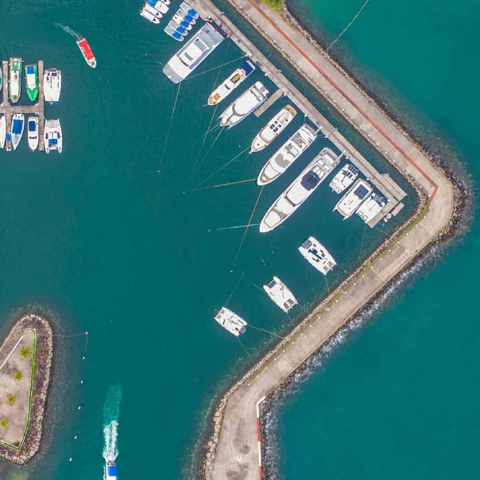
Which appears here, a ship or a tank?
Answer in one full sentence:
There is a ship in the scene.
